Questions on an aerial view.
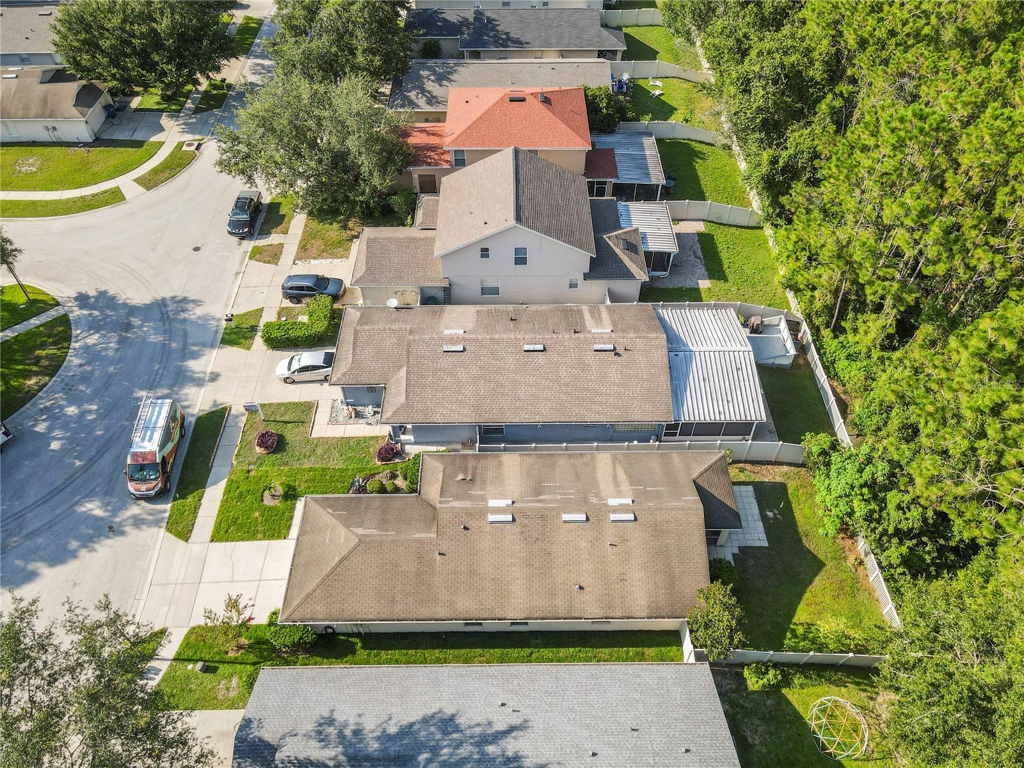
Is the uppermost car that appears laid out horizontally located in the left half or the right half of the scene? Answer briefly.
left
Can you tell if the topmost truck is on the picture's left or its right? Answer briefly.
left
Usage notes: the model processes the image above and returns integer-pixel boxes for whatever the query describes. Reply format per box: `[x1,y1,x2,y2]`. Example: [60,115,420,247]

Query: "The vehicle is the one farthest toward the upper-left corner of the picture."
[224,190,261,240]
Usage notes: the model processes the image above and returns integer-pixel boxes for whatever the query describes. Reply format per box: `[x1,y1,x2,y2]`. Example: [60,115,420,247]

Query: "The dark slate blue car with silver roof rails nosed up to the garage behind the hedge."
[280,270,350,303]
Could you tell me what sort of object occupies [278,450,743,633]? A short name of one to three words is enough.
house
